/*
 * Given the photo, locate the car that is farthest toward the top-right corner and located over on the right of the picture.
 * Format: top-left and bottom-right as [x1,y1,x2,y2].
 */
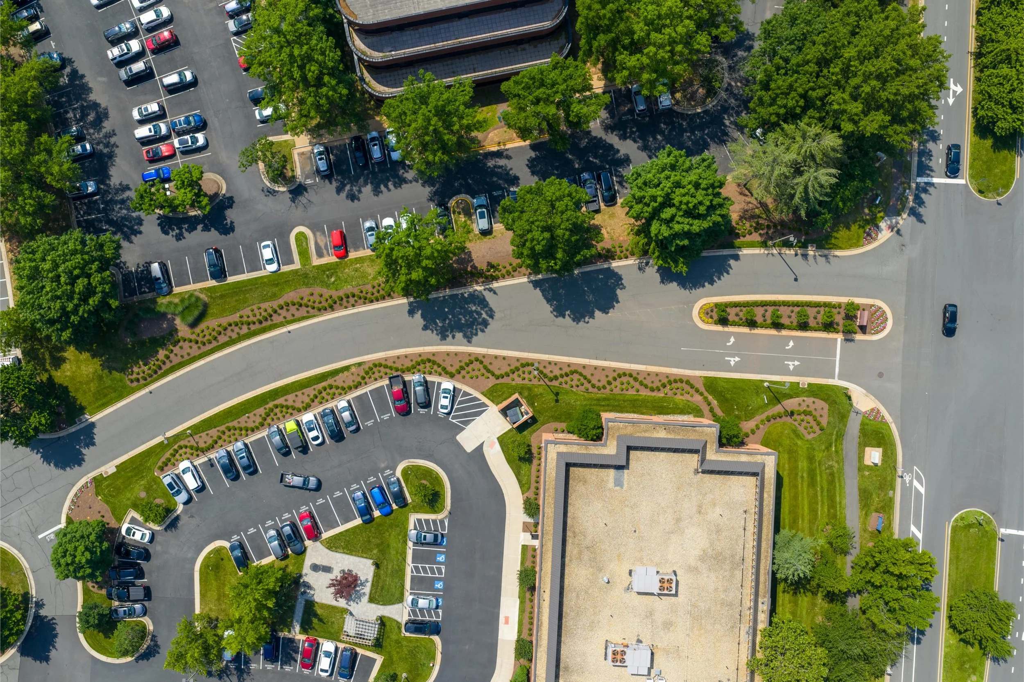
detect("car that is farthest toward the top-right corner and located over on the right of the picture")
[944,143,961,178]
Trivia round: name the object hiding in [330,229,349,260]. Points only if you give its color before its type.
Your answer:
red car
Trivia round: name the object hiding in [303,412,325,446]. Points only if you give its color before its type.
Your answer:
white car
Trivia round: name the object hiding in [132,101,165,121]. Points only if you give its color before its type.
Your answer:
white car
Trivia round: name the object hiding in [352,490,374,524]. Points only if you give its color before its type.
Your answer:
blue car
